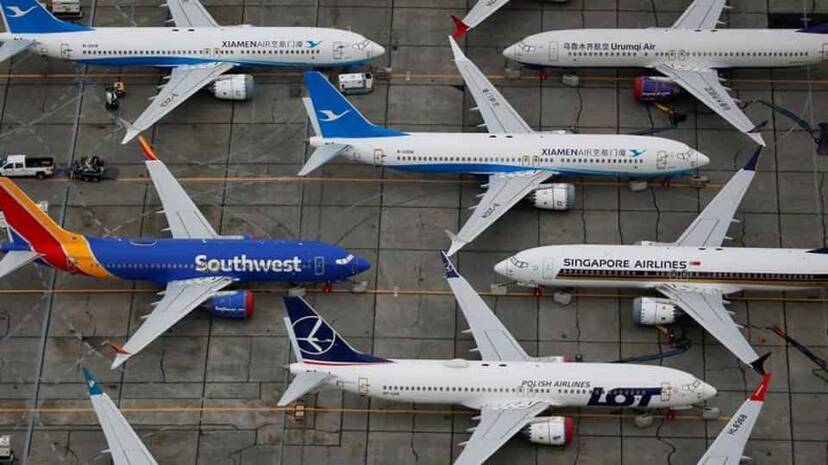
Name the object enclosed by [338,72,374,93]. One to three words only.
vehicle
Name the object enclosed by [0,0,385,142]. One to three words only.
airplane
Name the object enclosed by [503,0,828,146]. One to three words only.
airplane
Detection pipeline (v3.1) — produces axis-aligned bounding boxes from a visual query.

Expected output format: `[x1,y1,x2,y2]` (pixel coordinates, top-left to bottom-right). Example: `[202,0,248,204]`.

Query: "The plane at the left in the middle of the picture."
[0,136,370,367]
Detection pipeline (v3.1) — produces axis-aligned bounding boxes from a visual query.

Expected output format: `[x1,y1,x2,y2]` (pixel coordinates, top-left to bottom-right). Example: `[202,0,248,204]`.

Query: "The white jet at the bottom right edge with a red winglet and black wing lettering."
[698,374,771,465]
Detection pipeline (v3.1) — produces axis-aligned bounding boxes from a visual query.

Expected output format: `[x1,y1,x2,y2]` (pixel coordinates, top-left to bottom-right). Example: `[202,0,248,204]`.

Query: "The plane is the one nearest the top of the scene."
[446,0,501,37]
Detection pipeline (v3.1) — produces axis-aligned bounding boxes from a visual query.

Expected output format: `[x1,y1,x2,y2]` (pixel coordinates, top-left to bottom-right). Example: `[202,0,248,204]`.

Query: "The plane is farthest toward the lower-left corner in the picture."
[83,367,155,465]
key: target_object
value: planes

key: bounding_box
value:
[698,374,771,465]
[83,367,155,465]
[494,143,828,376]
[298,35,710,254]
[0,0,385,142]
[446,0,501,37]
[0,136,370,367]
[276,251,717,465]
[503,0,828,146]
